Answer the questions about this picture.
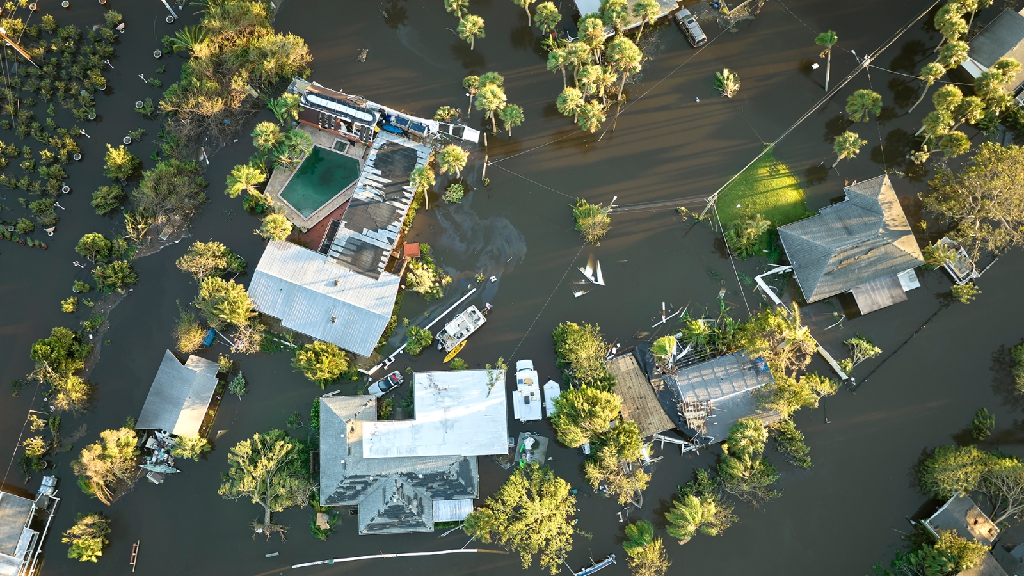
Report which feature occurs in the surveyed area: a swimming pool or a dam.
swimming pool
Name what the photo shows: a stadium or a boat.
boat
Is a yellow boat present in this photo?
Yes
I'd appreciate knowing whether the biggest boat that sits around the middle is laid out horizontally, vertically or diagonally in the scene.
diagonally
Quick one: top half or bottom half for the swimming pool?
top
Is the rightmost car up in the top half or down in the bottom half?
top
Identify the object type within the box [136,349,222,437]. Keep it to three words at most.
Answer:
house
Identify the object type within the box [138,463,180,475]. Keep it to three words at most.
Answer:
boat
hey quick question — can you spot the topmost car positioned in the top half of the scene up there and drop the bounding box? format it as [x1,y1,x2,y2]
[676,10,705,49]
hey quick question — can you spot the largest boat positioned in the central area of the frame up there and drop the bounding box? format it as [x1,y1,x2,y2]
[435,302,488,352]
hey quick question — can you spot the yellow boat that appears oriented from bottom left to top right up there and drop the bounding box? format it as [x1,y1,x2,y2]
[444,341,466,363]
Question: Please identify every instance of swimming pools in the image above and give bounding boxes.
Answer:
[276,143,363,222]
